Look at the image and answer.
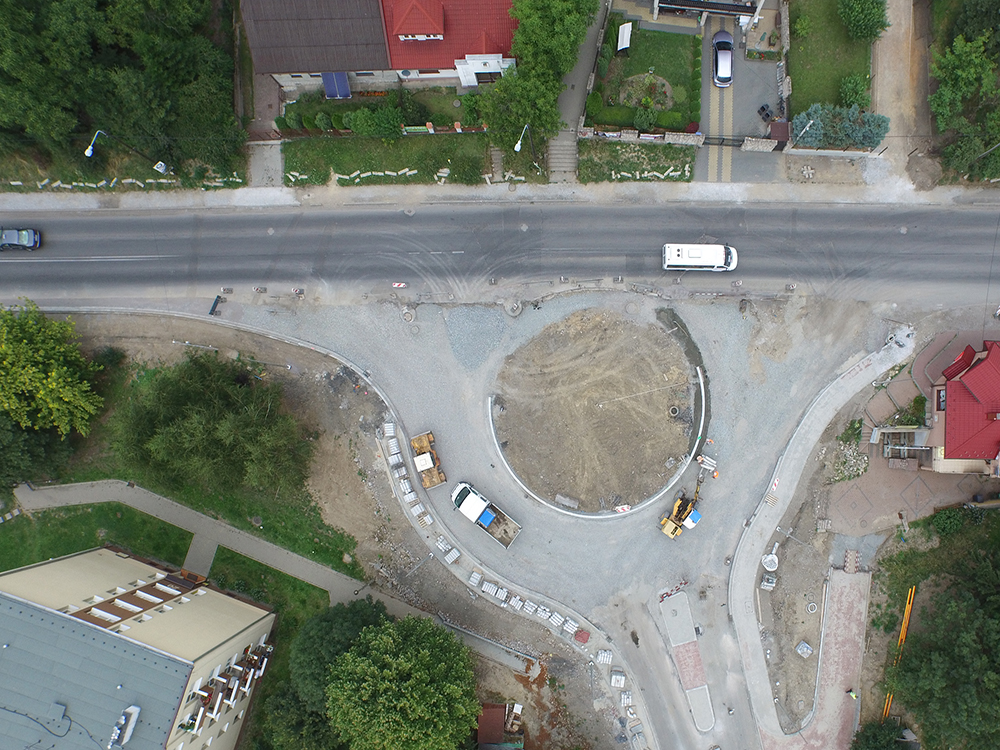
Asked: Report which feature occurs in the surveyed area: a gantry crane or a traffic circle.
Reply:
traffic circle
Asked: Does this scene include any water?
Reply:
No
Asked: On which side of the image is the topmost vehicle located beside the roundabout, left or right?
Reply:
right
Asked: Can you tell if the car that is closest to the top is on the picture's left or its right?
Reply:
right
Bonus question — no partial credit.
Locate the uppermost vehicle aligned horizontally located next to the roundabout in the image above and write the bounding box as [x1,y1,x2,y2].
[660,240,741,273]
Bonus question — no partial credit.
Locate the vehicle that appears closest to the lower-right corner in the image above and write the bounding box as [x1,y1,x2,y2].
[652,456,701,545]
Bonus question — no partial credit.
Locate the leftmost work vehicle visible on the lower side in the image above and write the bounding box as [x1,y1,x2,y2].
[408,431,451,491]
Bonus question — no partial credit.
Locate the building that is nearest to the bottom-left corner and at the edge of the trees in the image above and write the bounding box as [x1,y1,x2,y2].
[0,536,285,750]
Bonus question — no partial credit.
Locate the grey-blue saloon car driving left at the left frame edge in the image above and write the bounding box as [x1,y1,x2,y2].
[0,229,44,255]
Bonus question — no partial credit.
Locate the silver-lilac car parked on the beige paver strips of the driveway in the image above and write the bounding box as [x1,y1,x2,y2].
[709,30,737,88]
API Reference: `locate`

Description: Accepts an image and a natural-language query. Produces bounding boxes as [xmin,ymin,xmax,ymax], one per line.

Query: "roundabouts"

[487,307,712,521]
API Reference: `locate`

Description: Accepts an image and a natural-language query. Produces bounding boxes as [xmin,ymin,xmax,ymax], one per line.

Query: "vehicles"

[652,456,701,545]
[451,480,522,551]
[709,30,737,88]
[660,240,741,273]
[0,229,44,255]
[408,431,451,491]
